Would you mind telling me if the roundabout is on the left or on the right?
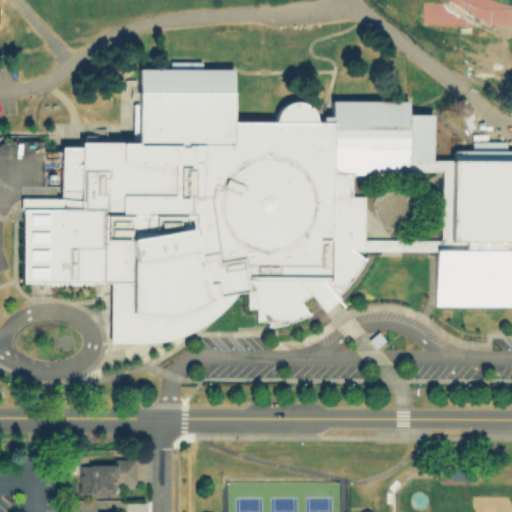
left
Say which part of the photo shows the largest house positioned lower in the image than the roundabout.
bottom left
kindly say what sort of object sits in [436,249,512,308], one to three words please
building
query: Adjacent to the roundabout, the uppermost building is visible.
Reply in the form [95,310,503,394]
[23,62,367,344]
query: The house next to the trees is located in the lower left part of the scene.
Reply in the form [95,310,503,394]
[80,460,137,498]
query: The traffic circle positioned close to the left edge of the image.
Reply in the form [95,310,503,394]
[0,303,102,380]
